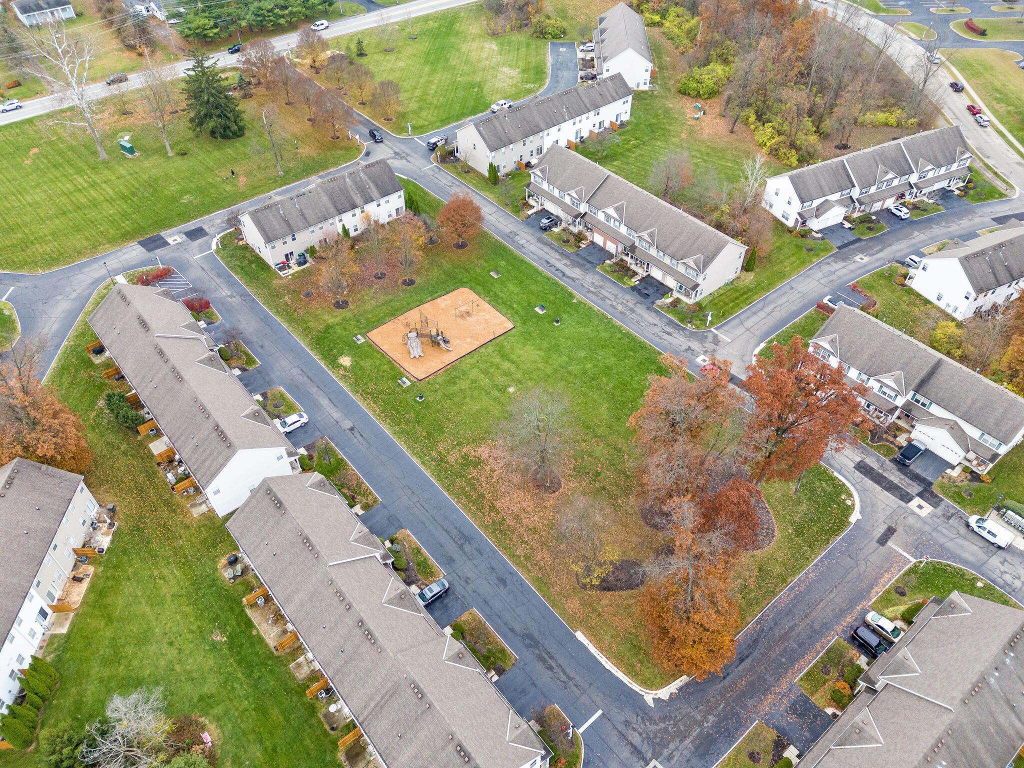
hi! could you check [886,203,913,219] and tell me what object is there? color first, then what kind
white car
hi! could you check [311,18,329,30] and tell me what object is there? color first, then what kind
white vehicle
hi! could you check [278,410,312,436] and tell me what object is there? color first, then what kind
white car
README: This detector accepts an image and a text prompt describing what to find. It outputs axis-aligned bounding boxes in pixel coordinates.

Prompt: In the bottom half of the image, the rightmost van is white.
[963,513,1023,550]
